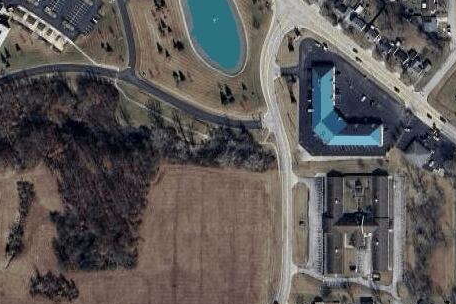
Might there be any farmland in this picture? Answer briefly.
Yes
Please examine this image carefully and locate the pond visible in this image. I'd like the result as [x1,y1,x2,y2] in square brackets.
[187,0,239,69]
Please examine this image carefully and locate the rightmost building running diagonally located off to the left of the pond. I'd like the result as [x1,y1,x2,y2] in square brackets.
[7,6,73,52]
